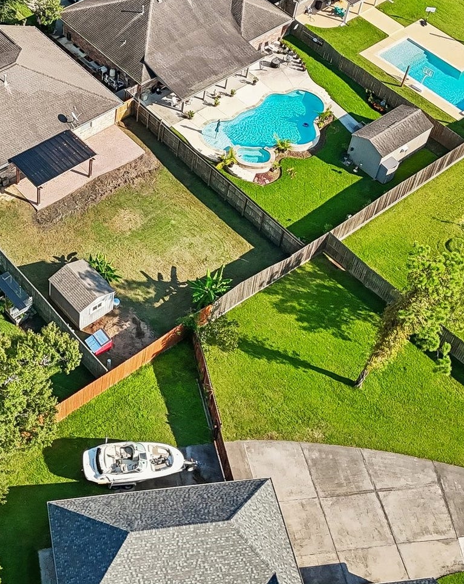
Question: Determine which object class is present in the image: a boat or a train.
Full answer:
It is a boat that can be seen here.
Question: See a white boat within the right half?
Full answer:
No, no white boat can be made out within the right half.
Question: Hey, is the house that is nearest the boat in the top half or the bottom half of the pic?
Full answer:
The house that is nearest the boat is in the bottom half of the image.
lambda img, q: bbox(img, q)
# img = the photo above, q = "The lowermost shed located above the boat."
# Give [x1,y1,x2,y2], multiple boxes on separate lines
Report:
[47,262,118,331]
